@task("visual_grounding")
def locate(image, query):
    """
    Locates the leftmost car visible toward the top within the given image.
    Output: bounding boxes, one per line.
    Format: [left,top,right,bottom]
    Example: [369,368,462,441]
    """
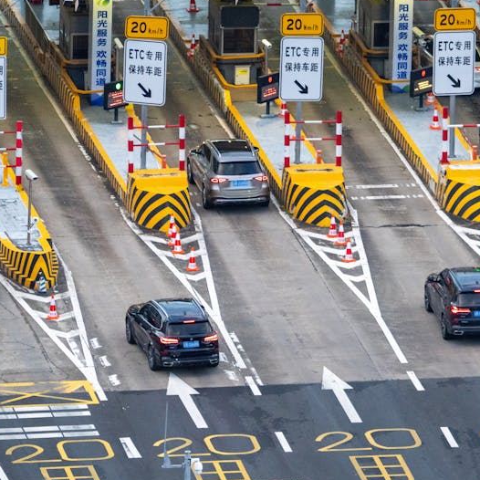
[190,143,266,208]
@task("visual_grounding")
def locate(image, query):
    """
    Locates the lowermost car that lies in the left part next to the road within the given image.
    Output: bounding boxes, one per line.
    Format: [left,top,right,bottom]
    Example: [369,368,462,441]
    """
[125,300,218,370]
